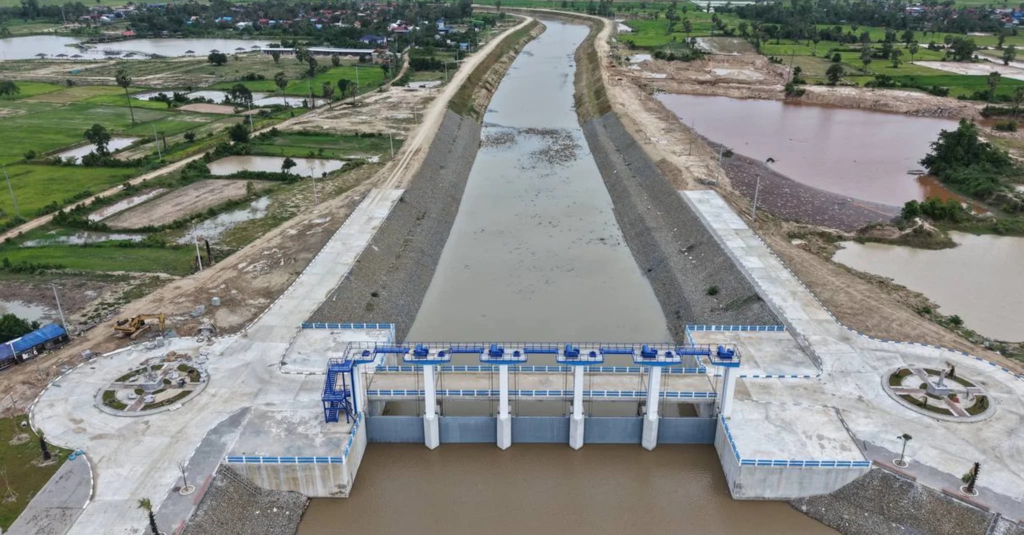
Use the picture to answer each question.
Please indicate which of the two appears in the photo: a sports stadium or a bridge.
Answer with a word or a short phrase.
bridge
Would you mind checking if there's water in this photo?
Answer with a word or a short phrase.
Yes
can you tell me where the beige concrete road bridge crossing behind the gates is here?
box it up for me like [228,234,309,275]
[375,370,711,405]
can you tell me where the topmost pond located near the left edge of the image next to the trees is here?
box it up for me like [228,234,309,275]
[0,34,285,60]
